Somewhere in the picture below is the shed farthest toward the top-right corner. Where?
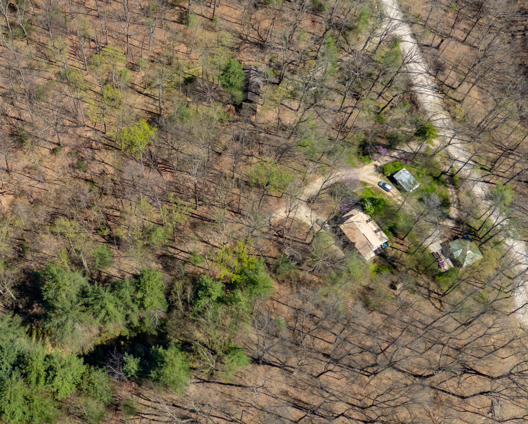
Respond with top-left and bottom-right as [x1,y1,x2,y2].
[390,167,420,194]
